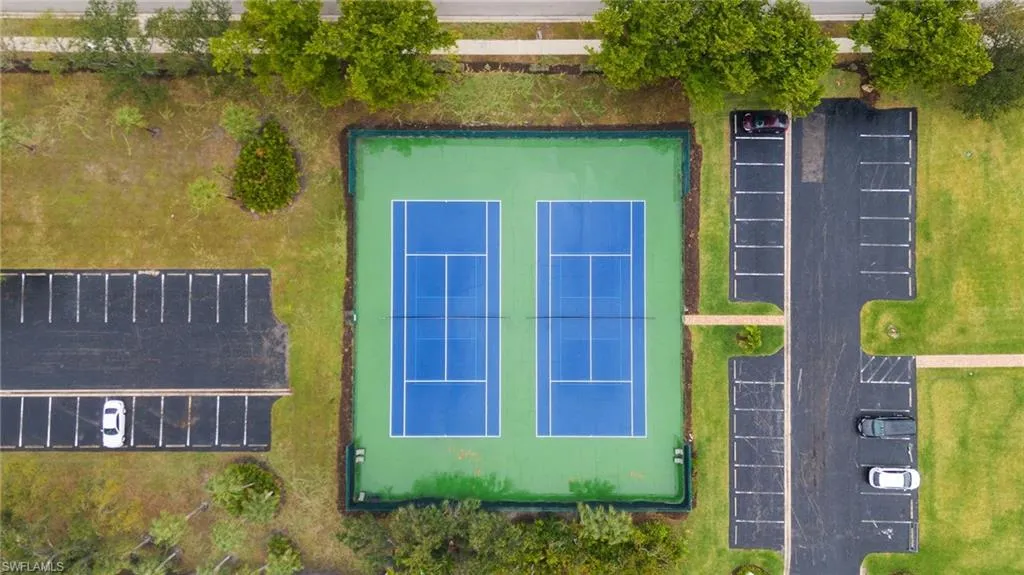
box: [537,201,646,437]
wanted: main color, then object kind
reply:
blue tennis court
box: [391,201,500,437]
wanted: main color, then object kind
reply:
blue tennis court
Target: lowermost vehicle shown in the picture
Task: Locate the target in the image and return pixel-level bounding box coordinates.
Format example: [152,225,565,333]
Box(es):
[868,467,920,491]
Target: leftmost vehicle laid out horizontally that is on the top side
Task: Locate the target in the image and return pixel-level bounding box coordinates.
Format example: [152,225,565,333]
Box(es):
[743,111,789,132]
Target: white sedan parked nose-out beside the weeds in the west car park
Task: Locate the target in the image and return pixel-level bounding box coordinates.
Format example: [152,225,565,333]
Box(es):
[102,399,128,448]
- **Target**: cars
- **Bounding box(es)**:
[102,399,128,448]
[743,111,789,132]
[868,467,920,491]
[856,414,915,438]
